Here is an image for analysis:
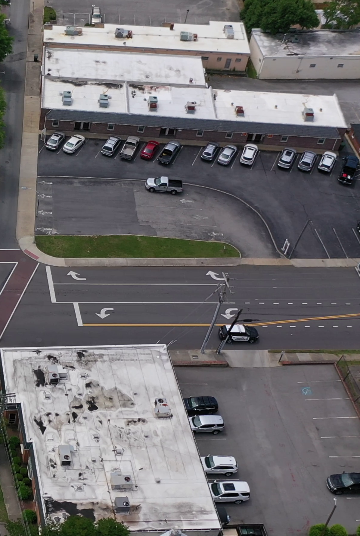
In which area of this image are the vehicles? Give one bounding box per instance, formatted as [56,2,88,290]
[296,150,318,174]
[183,395,225,416]
[43,133,68,154]
[144,178,184,193]
[216,505,236,525]
[216,323,261,343]
[97,136,124,157]
[89,5,105,25]
[275,149,297,171]
[188,413,231,434]
[61,136,86,155]
[336,156,359,183]
[326,473,360,496]
[156,140,183,166]
[201,453,246,476]
[138,142,161,163]
[316,152,339,175]
[238,144,260,167]
[115,135,143,161]
[216,146,239,167]
[199,142,221,163]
